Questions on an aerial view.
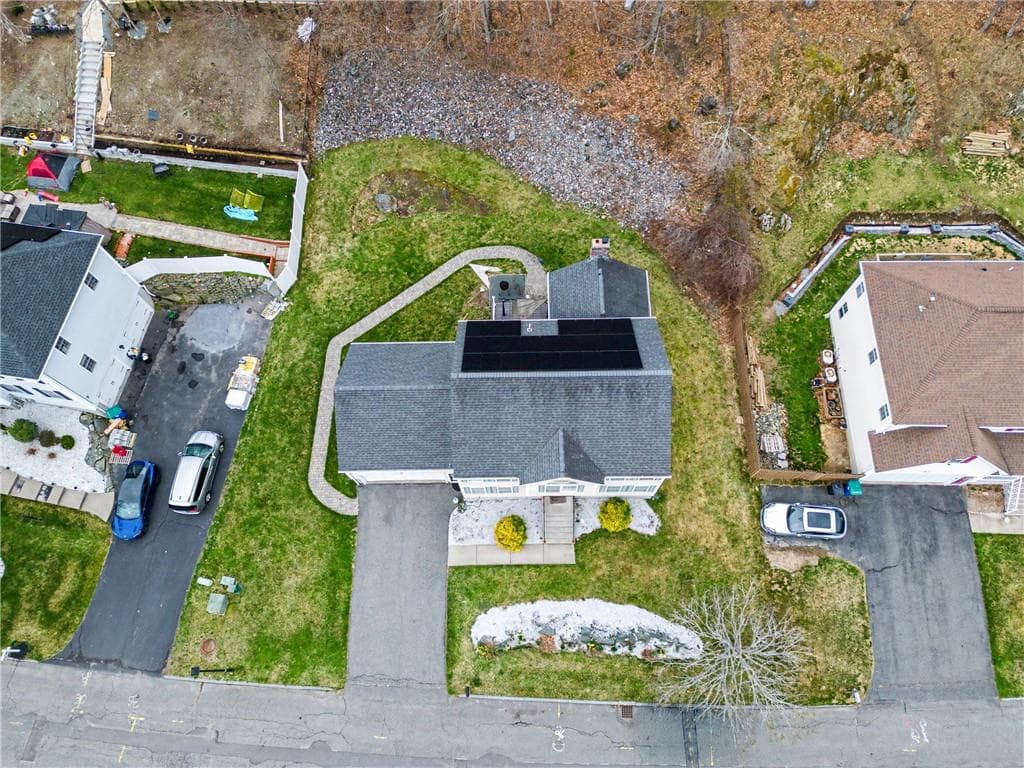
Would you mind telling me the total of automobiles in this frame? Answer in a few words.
3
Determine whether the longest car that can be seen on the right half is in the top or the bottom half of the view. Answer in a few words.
bottom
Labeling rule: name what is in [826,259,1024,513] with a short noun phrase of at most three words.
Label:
house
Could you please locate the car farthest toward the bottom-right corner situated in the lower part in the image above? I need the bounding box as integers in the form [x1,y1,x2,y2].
[760,499,851,541]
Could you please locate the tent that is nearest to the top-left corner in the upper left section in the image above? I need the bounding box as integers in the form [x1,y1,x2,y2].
[23,153,83,191]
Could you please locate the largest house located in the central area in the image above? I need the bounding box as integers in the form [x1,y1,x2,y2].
[331,234,677,548]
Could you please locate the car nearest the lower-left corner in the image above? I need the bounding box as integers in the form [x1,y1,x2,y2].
[111,459,164,541]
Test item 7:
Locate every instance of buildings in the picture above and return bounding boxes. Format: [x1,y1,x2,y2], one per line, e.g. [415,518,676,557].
[0,220,154,414]
[331,234,677,548]
[826,259,1024,513]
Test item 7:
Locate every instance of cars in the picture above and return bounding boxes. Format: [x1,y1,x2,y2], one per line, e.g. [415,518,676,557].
[111,459,164,541]
[171,431,228,515]
[760,499,851,541]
